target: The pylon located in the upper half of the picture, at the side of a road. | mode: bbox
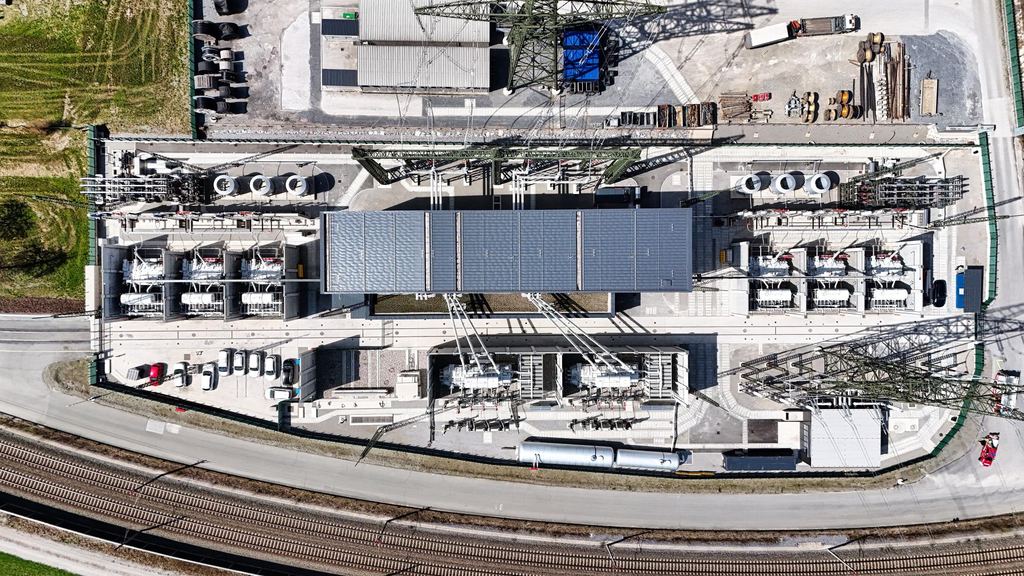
[410,0,670,97]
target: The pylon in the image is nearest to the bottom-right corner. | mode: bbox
[805,343,1024,429]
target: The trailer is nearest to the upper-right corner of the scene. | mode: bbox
[919,69,939,116]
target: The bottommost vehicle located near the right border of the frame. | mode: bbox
[975,430,999,468]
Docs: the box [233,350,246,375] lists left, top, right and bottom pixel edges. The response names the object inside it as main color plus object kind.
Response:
white vehicle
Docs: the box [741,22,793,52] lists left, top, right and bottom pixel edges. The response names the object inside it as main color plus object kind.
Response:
white trailer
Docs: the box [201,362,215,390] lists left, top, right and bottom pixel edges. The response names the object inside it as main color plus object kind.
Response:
white car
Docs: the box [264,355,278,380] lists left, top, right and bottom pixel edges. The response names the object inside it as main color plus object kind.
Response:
white car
